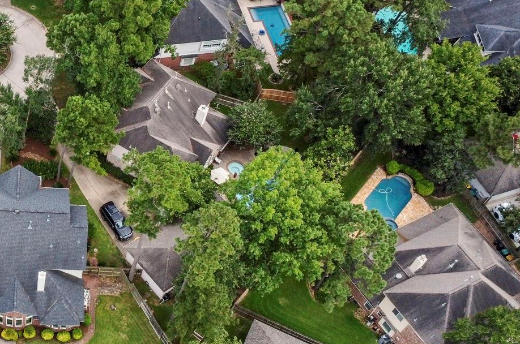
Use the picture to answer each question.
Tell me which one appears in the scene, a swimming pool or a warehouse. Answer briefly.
swimming pool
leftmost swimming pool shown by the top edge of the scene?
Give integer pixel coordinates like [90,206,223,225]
[248,5,296,55]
